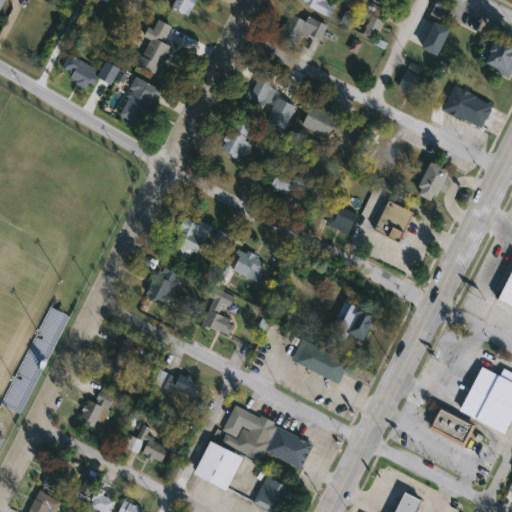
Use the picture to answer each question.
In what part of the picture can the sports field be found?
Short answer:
left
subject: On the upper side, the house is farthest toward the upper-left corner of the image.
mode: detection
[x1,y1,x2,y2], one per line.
[62,53,99,89]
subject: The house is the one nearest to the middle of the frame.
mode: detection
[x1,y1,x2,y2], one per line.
[232,250,266,282]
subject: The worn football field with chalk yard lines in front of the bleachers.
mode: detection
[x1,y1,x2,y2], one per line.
[0,214,64,373]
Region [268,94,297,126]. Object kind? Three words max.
house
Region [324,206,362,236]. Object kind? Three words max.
house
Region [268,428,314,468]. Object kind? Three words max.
building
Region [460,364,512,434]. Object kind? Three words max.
building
